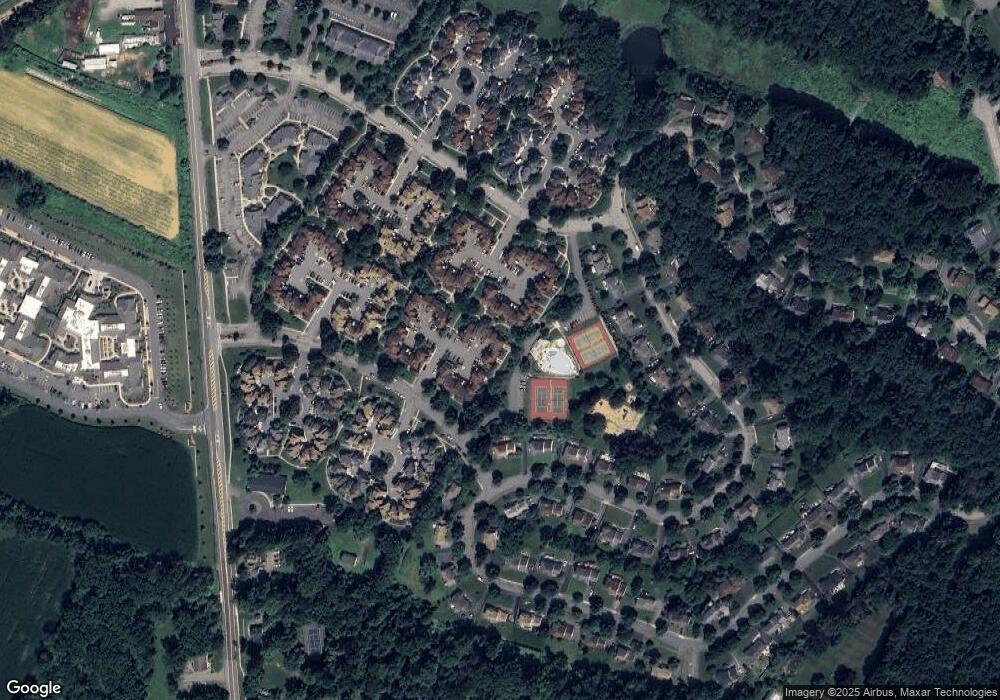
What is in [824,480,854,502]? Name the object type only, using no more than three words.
house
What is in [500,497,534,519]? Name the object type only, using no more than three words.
house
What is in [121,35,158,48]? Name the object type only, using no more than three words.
greenhouse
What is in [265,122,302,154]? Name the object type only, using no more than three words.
building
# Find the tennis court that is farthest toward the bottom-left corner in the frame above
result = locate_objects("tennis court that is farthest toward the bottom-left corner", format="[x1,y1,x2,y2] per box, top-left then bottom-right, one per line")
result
[304,625,324,655]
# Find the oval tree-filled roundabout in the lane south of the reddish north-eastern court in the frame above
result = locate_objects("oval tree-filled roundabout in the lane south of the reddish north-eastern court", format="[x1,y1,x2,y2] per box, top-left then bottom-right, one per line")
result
[544,127,578,171]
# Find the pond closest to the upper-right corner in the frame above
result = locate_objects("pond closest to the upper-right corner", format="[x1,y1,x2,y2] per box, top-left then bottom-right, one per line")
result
[622,26,672,99]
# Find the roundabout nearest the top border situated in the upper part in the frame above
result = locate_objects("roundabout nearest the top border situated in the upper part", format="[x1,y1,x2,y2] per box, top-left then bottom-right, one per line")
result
[450,61,484,103]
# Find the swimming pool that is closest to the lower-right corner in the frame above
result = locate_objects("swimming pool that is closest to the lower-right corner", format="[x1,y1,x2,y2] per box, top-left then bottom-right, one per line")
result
[530,337,580,376]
